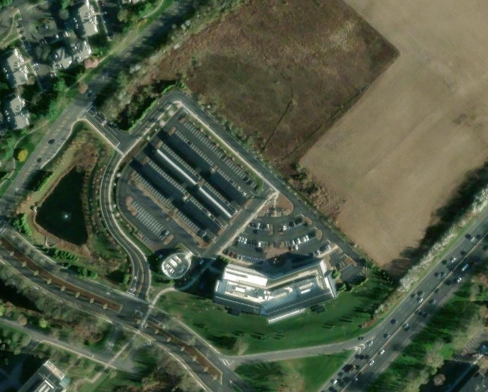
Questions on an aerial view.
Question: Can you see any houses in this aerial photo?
Yes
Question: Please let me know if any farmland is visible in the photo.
Yes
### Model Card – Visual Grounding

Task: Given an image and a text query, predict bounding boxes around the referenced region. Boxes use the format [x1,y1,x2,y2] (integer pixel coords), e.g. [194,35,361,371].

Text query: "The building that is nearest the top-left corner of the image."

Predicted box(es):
[2,44,35,86]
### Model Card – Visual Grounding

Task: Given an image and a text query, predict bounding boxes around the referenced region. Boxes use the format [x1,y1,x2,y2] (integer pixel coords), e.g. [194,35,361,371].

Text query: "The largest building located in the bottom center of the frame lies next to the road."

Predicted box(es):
[212,256,341,323]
